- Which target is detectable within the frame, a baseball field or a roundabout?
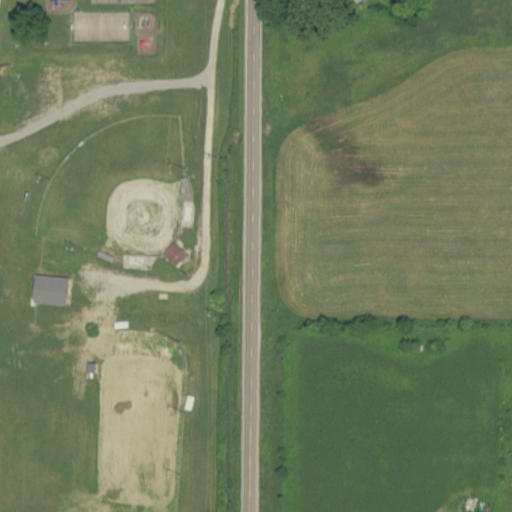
baseball field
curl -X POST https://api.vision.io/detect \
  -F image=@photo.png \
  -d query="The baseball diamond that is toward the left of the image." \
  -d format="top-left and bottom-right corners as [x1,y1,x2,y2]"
[106,178,182,253]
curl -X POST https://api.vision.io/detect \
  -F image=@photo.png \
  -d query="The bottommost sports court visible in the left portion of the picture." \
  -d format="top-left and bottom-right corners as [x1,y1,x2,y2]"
[74,12,130,42]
